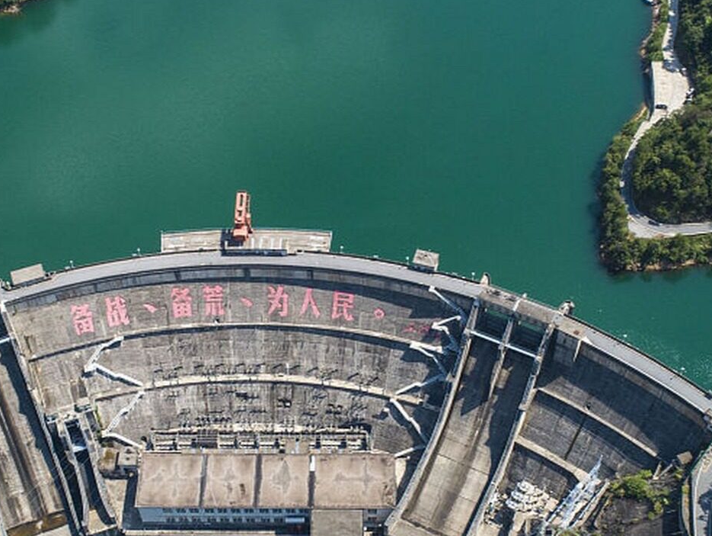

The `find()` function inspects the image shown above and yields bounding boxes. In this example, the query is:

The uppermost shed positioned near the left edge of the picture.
[10,264,46,292]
